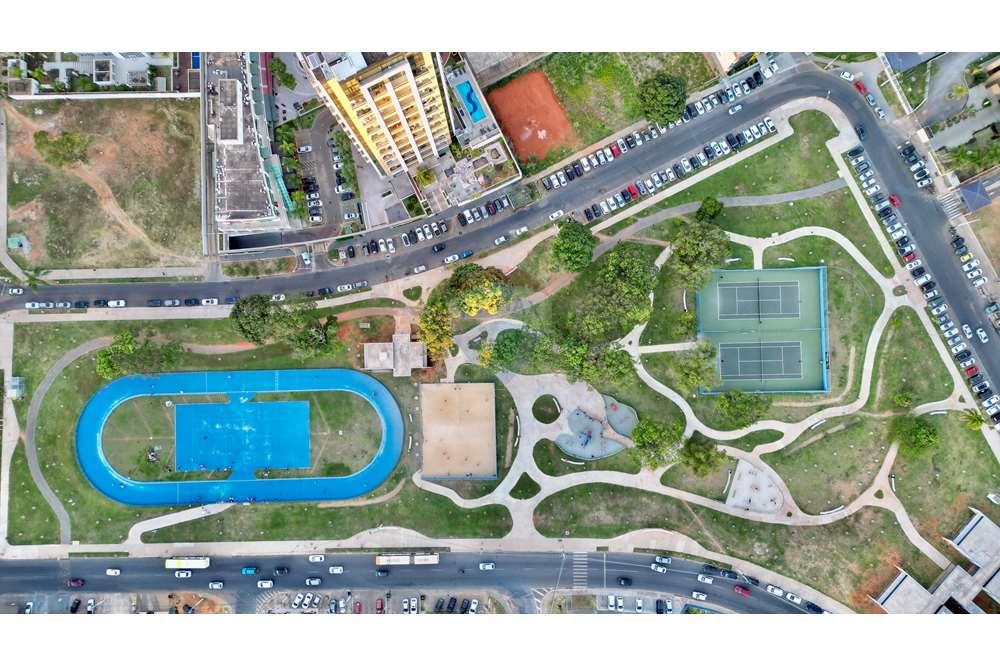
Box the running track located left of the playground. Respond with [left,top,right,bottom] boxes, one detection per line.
[74,367,404,507]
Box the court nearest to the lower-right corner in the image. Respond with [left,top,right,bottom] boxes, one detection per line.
[720,339,803,383]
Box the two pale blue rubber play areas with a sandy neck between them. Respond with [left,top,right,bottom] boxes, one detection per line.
[553,394,640,461]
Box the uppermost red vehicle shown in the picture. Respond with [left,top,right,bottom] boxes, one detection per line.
[853,80,867,96]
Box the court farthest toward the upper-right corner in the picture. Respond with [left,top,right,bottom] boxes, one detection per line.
[718,277,800,323]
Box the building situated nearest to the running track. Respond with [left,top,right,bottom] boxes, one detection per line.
[361,334,427,377]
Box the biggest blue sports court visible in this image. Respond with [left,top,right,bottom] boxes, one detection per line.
[175,391,311,481]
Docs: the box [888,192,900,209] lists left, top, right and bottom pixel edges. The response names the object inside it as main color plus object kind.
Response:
red vehicle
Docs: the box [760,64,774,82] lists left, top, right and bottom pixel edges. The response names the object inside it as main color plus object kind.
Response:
white vehicle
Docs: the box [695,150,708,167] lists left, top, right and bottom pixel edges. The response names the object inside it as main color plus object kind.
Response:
white vehicle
